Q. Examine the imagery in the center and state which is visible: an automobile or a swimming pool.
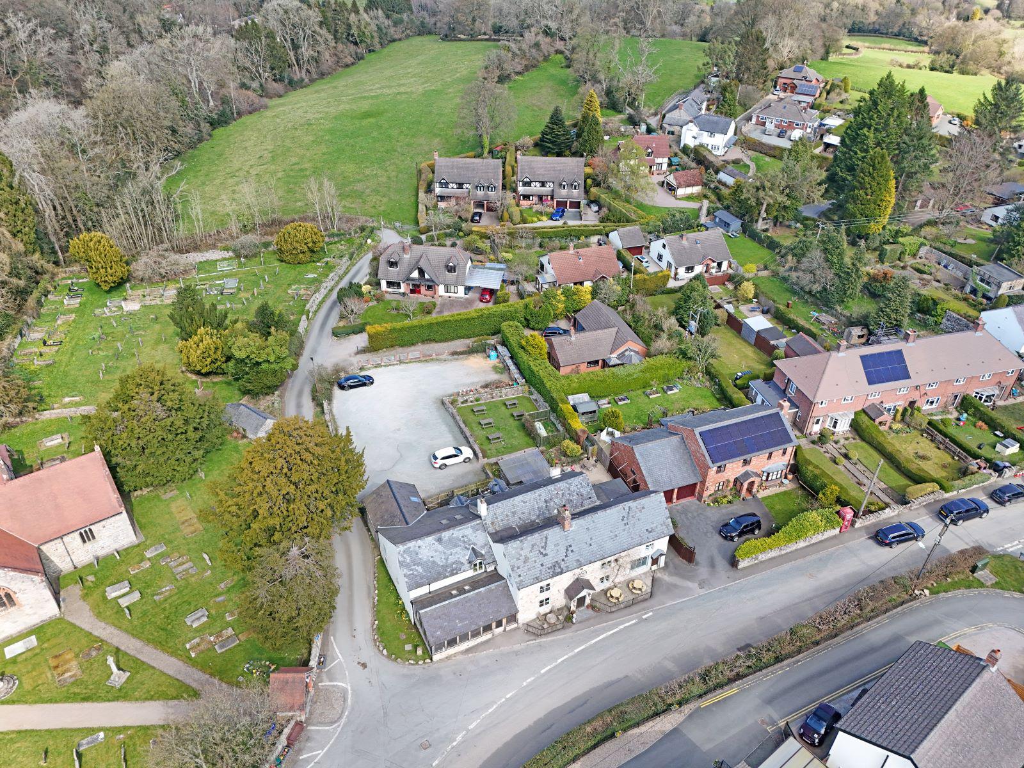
automobile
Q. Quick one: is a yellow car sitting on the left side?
No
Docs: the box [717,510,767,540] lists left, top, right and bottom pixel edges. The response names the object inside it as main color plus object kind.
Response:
blue car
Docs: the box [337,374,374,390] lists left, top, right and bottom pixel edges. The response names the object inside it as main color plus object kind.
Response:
blue car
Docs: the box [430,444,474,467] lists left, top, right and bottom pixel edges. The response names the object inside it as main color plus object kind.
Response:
white car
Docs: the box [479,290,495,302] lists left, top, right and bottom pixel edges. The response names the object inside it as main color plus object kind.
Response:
red vehicle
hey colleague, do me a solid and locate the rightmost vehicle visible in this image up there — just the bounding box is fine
[993,480,1024,505]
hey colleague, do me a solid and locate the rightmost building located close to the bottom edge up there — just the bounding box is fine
[828,641,1024,768]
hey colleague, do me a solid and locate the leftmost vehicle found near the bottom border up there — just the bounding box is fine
[800,696,846,746]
